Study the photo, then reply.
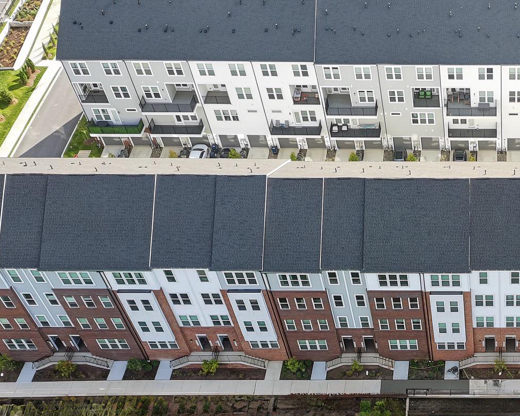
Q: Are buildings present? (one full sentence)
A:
Yes, I can see a building in this picture.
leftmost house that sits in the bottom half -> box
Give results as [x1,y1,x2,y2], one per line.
[0,157,149,372]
